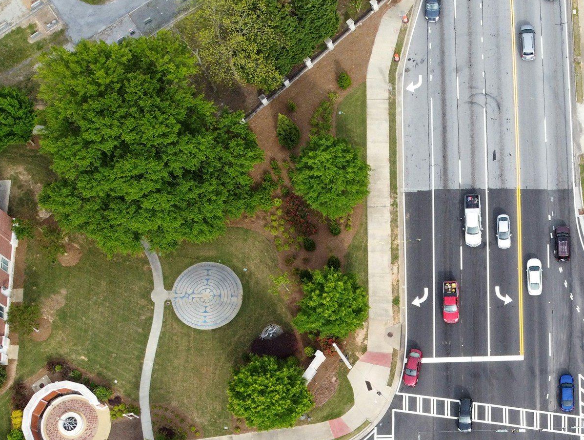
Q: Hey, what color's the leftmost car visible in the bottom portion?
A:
red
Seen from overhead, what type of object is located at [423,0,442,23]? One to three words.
car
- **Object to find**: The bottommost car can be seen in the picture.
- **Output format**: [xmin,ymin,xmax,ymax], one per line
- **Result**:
[455,397,474,432]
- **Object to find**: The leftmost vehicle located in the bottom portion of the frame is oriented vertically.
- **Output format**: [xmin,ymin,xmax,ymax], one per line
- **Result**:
[402,347,423,388]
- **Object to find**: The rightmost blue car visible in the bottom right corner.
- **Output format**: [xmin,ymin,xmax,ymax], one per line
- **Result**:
[558,374,577,411]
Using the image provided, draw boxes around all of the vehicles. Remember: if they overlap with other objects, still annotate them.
[558,374,577,411]
[402,347,423,388]
[518,24,538,61]
[462,192,483,247]
[441,280,460,323]
[495,213,512,249]
[526,258,545,296]
[423,0,442,23]
[555,223,573,261]
[455,397,474,432]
